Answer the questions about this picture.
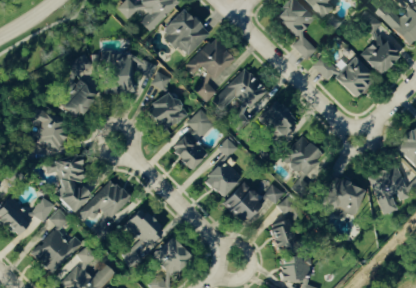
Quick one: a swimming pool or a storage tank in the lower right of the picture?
swimming pool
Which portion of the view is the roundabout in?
bottom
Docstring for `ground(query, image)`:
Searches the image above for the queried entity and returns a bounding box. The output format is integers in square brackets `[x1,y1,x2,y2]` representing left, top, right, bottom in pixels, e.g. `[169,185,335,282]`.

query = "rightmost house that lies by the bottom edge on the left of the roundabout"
[150,242,186,288]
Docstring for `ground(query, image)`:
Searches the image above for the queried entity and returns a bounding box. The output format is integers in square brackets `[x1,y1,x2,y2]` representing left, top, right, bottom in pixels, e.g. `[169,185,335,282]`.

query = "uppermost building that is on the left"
[118,0,178,31]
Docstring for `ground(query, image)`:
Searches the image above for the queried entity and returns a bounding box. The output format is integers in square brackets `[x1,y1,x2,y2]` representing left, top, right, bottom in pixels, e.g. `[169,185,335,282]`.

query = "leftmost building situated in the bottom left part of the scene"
[0,198,54,236]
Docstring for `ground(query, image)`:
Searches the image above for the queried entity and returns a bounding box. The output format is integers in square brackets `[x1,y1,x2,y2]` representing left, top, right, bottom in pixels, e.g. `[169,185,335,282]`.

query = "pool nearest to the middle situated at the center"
[200,127,224,150]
